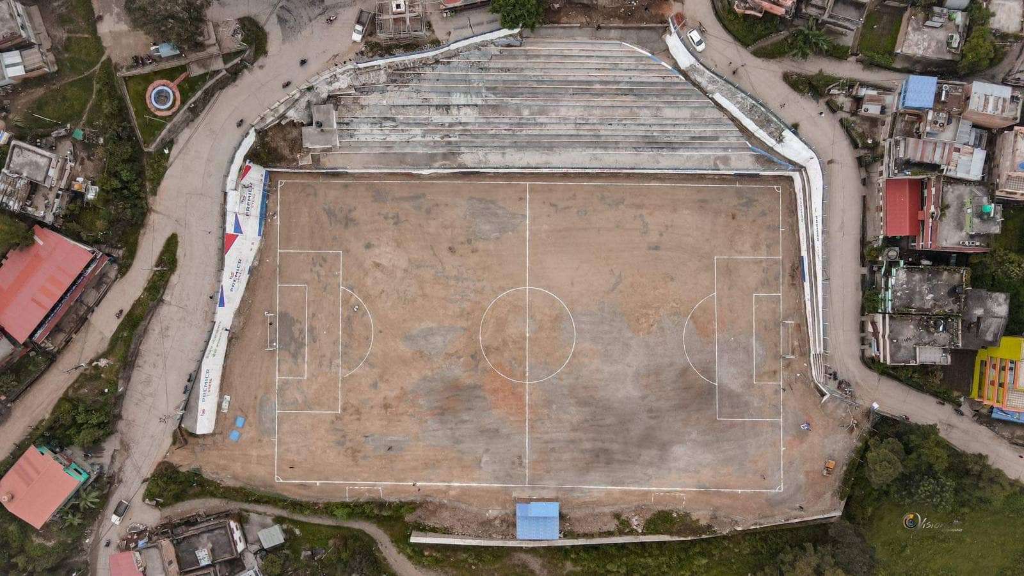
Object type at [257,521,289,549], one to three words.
shed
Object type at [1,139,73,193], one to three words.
house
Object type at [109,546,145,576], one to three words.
house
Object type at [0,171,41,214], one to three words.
shed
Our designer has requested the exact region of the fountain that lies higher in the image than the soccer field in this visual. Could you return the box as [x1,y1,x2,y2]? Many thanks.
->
[145,80,181,115]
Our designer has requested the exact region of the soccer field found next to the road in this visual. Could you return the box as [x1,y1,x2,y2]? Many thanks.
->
[168,173,861,539]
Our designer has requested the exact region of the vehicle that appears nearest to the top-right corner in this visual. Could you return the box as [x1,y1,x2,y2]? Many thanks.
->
[687,27,704,51]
